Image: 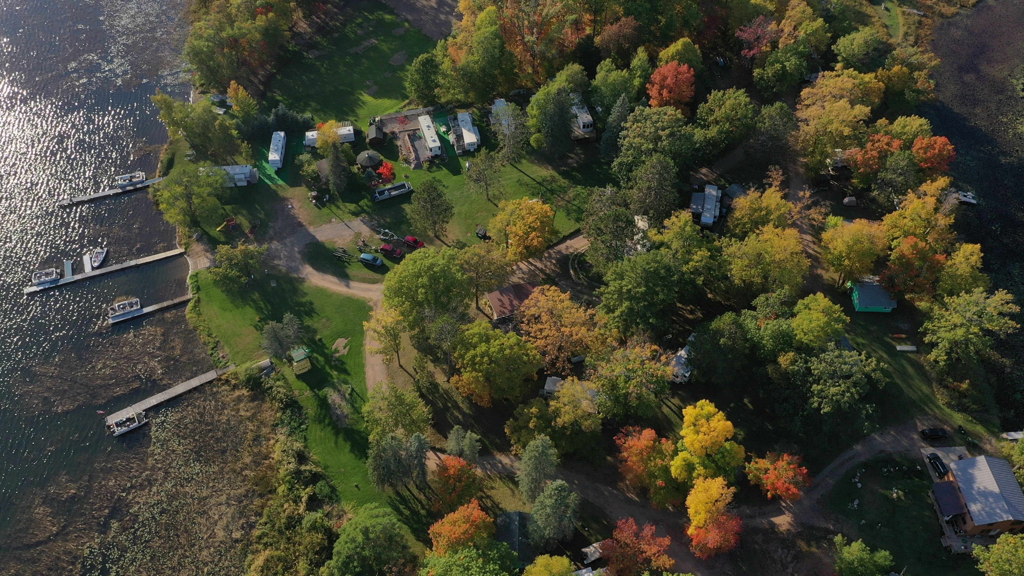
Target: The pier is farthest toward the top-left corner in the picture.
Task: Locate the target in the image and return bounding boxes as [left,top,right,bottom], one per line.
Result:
[60,178,161,206]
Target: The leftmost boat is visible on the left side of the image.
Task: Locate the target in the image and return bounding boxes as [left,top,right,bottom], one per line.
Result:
[31,266,62,283]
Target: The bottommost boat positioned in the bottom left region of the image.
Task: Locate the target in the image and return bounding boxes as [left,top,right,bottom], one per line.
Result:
[109,409,149,436]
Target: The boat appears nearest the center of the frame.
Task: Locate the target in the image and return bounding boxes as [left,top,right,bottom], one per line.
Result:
[373,181,414,201]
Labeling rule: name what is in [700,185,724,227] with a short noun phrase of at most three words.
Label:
trailer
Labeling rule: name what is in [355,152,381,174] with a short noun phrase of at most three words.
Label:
gazebo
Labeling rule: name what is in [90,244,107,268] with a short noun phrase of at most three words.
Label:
boat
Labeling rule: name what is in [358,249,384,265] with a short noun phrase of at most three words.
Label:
car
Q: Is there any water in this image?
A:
Yes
